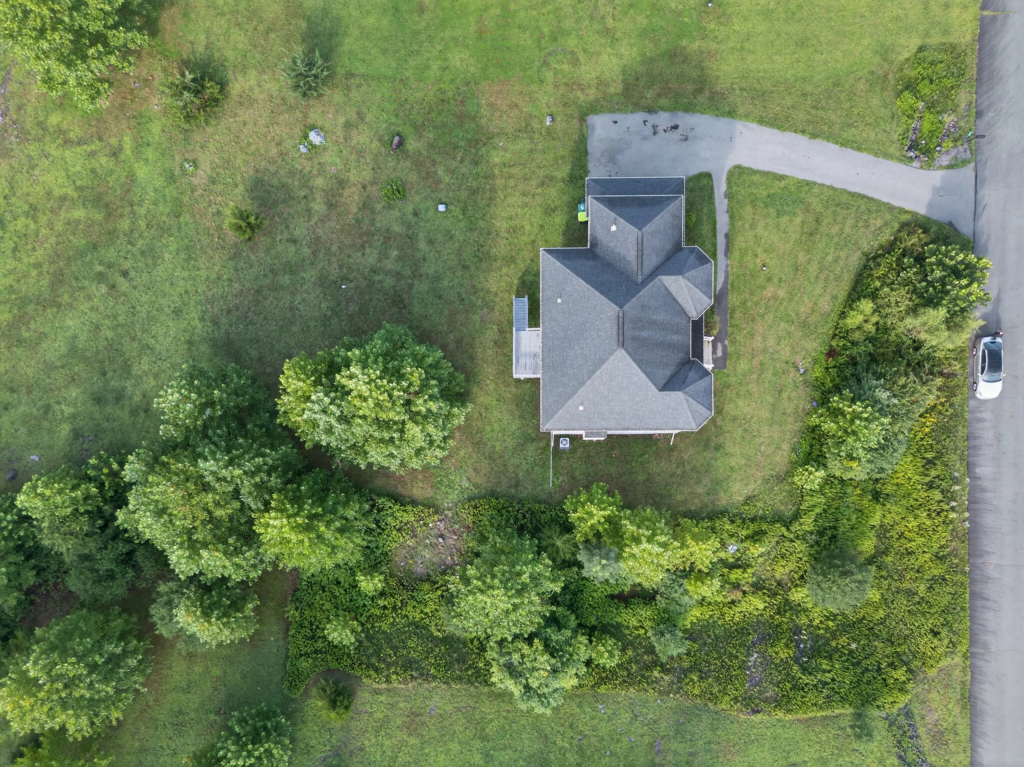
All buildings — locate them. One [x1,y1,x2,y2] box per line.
[513,175,716,446]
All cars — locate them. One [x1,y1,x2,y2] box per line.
[971,336,1008,401]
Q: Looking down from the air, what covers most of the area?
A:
grass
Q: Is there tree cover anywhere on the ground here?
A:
Yes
